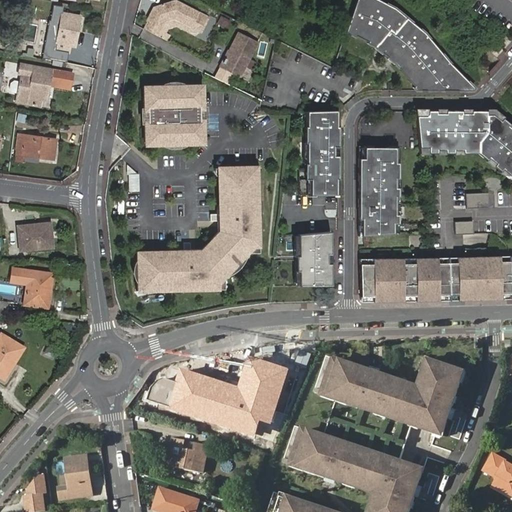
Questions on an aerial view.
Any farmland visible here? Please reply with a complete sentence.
No, no farmland is visible.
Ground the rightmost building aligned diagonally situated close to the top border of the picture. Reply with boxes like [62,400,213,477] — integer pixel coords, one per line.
[349,0,477,90]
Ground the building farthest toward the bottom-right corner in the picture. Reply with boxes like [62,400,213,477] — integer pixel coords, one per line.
[482,452,512,498]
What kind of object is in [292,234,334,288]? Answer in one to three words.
building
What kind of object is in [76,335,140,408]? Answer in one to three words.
roundabout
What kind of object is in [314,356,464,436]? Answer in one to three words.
building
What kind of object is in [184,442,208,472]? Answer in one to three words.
house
